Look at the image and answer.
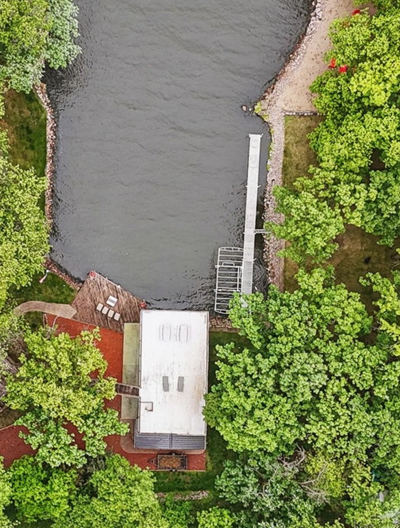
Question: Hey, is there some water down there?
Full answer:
Yes, some water is visible.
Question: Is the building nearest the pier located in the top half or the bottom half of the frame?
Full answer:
Seen from above, the building nearest the pier lies in the bottom half of the view.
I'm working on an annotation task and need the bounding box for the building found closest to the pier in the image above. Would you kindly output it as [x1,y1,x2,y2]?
[133,311,210,452]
